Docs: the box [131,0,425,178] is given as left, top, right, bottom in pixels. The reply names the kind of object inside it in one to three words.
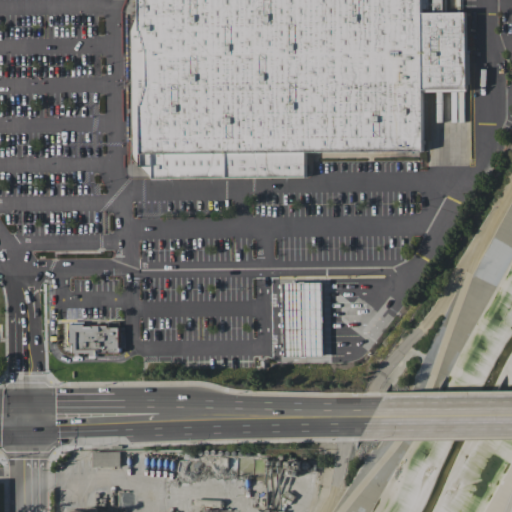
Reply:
building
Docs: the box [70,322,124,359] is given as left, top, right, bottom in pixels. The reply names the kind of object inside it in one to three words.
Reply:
building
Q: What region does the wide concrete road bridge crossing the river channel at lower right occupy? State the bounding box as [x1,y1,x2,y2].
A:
[336,386,512,448]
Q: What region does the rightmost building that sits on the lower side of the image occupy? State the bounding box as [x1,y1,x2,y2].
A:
[285,283,324,357]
